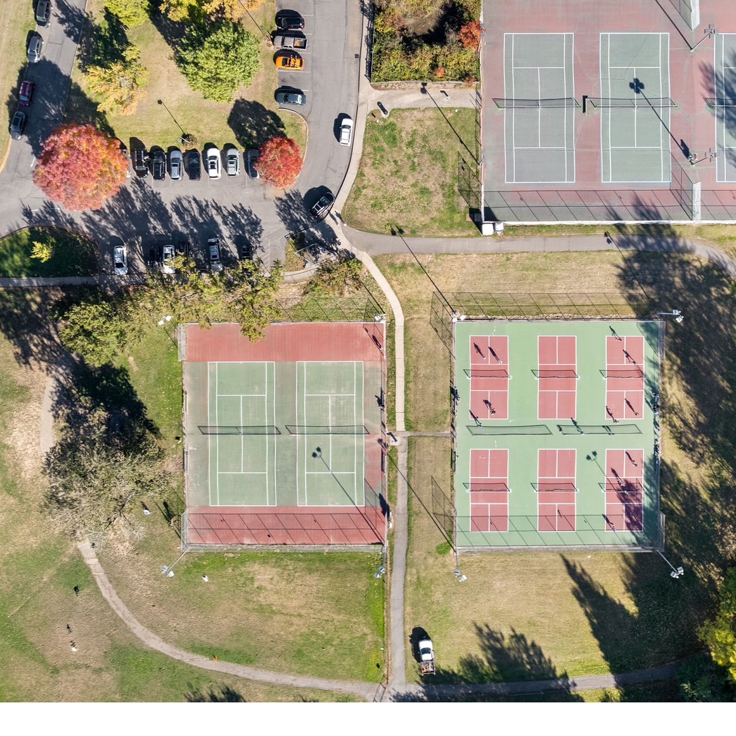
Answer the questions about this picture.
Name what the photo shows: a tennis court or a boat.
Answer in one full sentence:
Looking from above, you can make out a tennis court.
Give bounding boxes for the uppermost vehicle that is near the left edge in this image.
[36,0,54,30]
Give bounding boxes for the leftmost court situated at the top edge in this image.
[504,32,574,184]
